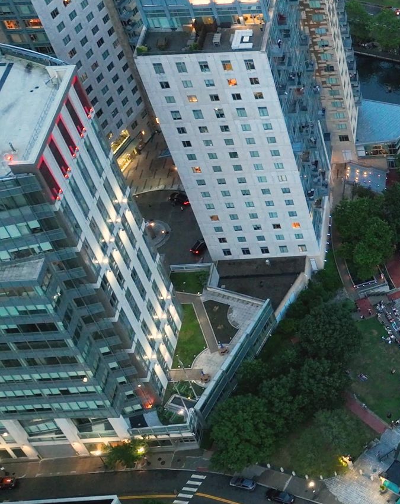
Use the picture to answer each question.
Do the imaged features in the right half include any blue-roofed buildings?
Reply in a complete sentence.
Yes, in the right half there is a blue-roofed building.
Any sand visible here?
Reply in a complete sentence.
No, there is no sand in the image.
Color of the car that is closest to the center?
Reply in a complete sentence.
The car that is closest to the center is black.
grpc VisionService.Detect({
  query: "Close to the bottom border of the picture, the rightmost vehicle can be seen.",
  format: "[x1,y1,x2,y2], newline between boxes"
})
[262,485,297,504]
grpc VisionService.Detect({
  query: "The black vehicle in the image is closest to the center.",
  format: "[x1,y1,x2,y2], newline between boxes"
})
[184,235,209,256]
